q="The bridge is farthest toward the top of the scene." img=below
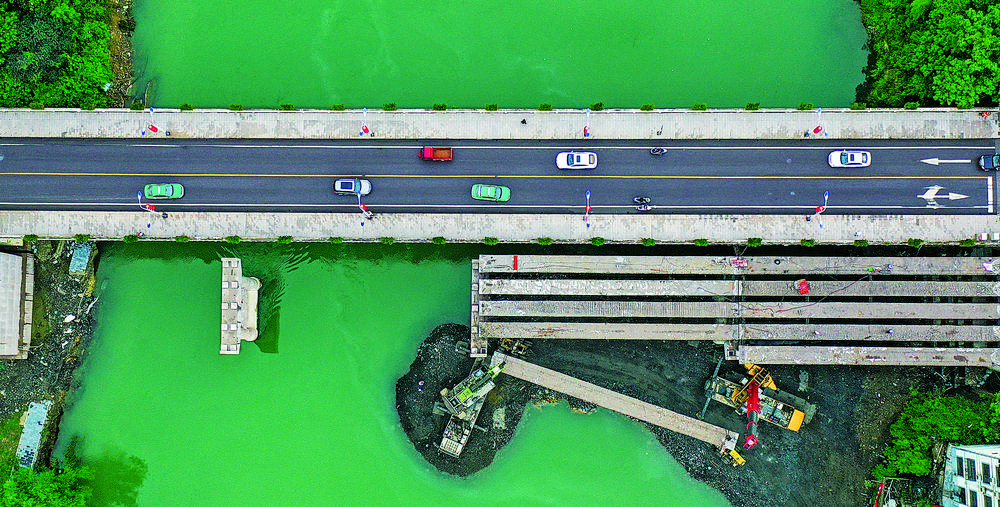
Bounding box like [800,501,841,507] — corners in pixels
[0,106,1000,246]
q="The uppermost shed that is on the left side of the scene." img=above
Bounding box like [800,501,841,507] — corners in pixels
[67,246,99,276]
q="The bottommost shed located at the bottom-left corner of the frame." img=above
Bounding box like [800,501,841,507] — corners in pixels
[10,402,48,469]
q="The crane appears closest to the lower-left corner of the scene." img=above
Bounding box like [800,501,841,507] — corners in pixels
[432,357,508,461]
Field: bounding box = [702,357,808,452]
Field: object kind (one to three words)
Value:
crane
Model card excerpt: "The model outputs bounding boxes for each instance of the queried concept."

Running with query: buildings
[0,252,39,362]
[941,444,1000,507]
[67,246,99,276]
[10,402,48,469]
